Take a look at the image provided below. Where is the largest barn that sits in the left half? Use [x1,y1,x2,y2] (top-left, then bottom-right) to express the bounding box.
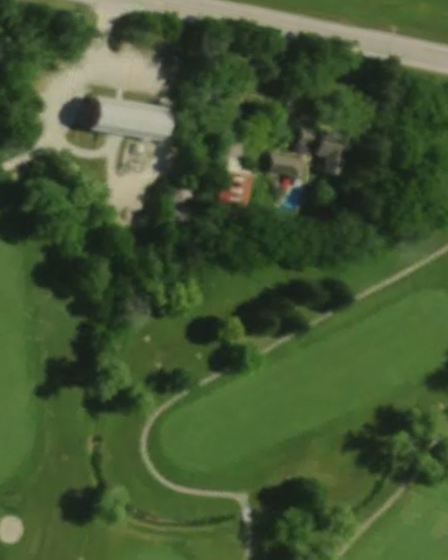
[96,95,173,140]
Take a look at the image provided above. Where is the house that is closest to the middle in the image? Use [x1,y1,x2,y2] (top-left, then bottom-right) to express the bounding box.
[270,149,314,182]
